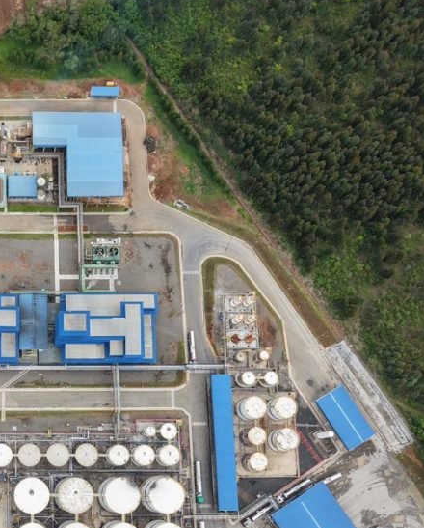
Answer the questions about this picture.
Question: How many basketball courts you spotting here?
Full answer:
I count no basketball courts.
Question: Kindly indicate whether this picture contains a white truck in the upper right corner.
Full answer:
No, no white truck is visible in the upper right corner.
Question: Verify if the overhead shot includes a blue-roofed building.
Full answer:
Yes, the image includes a blue-roofed building.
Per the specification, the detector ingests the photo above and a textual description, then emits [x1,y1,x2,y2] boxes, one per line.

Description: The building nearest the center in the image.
[60,294,157,364]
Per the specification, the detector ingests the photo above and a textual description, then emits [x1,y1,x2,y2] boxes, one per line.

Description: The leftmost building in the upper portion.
[8,175,37,201]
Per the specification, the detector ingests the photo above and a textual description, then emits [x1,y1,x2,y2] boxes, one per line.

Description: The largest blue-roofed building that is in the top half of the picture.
[32,112,124,204]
